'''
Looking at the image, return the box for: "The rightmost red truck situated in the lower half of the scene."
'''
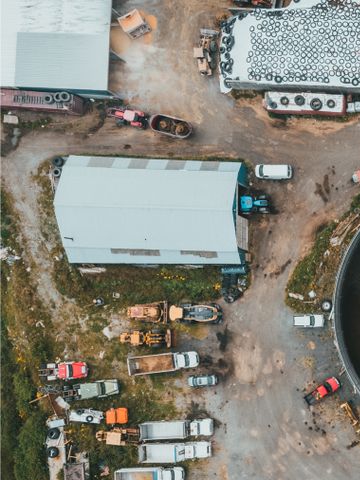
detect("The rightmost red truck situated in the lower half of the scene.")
[303,374,343,406]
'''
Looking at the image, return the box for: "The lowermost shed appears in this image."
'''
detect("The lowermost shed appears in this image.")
[54,155,251,267]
